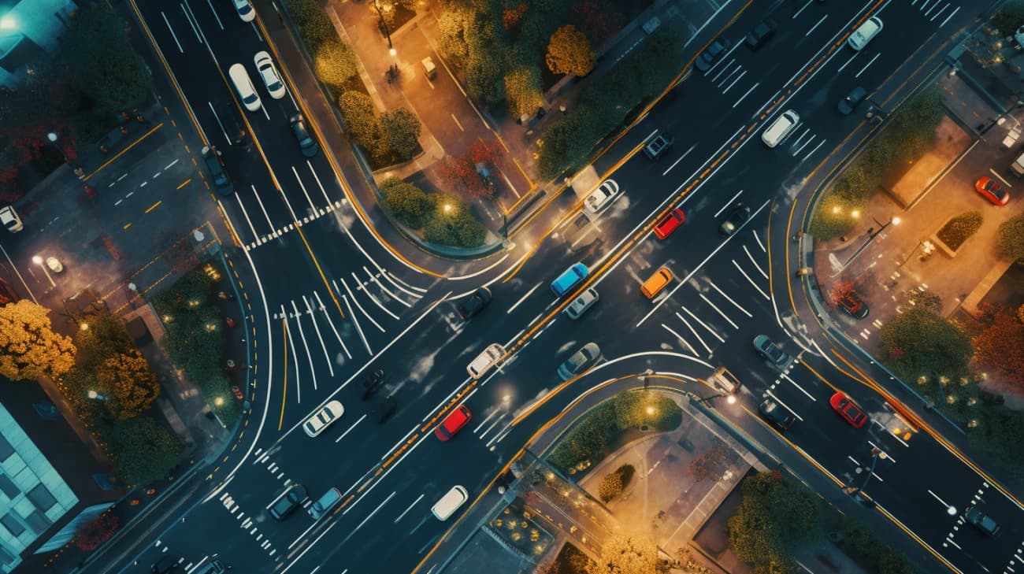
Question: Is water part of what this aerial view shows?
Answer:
No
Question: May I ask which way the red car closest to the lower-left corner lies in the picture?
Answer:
on a diagonal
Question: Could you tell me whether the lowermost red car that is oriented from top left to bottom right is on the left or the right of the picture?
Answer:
right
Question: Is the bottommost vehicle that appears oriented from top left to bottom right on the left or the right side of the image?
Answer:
right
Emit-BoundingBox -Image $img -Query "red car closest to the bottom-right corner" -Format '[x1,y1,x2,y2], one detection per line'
[825,389,870,429]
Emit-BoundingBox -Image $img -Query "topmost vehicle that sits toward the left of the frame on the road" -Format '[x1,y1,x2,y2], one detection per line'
[229,0,257,25]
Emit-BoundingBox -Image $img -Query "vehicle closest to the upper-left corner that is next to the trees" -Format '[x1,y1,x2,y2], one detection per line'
[0,201,27,237]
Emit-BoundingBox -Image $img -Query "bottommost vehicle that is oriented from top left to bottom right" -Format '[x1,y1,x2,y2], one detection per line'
[960,504,1001,538]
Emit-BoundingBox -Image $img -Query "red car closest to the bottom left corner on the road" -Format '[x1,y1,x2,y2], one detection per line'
[432,402,475,443]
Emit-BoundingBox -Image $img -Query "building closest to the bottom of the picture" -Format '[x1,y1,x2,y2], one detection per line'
[0,373,97,574]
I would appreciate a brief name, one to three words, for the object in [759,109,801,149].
car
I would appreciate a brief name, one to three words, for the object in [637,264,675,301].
car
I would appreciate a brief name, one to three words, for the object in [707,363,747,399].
vehicle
